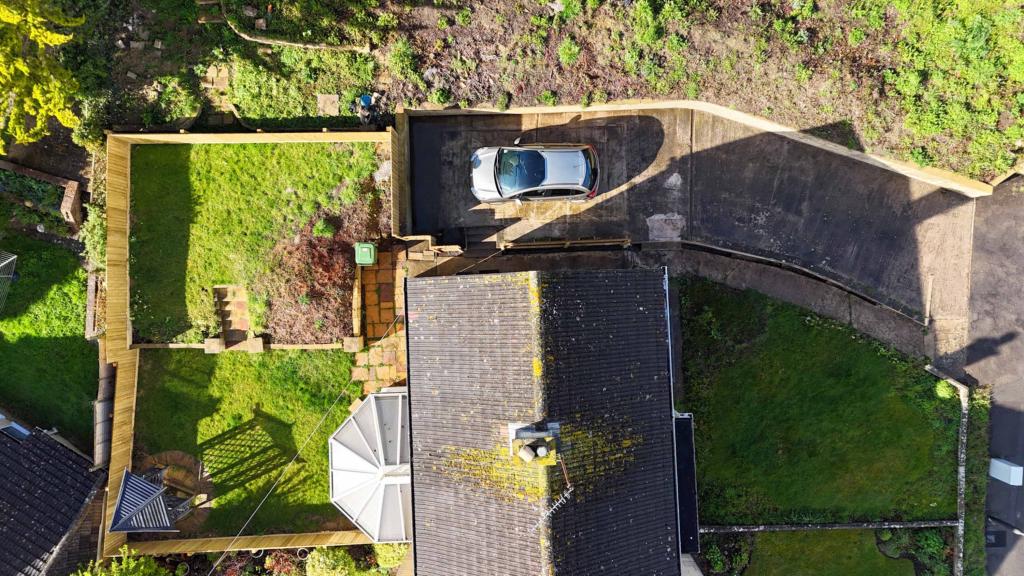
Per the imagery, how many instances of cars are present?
1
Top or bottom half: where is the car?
top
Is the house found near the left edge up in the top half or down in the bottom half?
bottom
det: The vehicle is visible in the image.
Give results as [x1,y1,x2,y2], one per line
[467,135,602,207]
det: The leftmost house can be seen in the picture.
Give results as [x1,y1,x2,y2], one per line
[0,374,111,576]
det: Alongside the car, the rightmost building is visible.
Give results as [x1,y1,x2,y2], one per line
[397,252,702,576]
